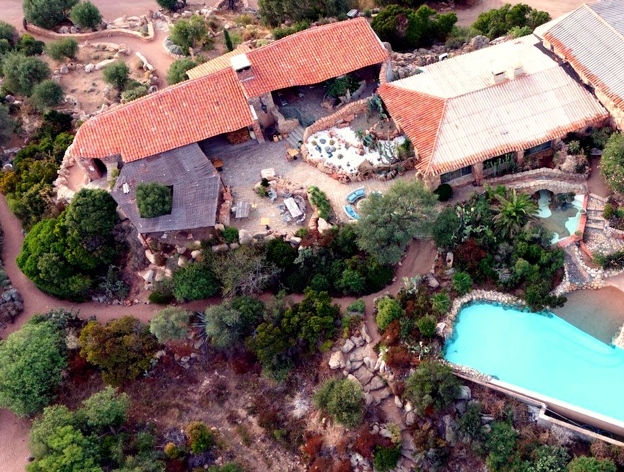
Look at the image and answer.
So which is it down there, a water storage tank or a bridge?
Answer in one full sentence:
Looking from above, you can make out a bridge.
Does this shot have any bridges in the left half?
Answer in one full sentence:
No, looking in the left half, there is no bridge.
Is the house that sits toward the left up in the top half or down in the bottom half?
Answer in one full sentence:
It is in the top half that the house that sits toward the left appears.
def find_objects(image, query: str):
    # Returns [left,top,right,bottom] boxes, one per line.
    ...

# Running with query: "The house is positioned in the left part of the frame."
[71,16,390,177]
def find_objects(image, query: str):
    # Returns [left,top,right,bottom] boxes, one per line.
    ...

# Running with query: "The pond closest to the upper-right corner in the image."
[536,193,594,259]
